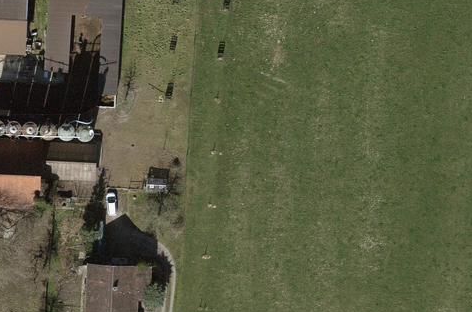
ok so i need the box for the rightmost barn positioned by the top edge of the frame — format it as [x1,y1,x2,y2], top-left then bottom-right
[44,0,124,96]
